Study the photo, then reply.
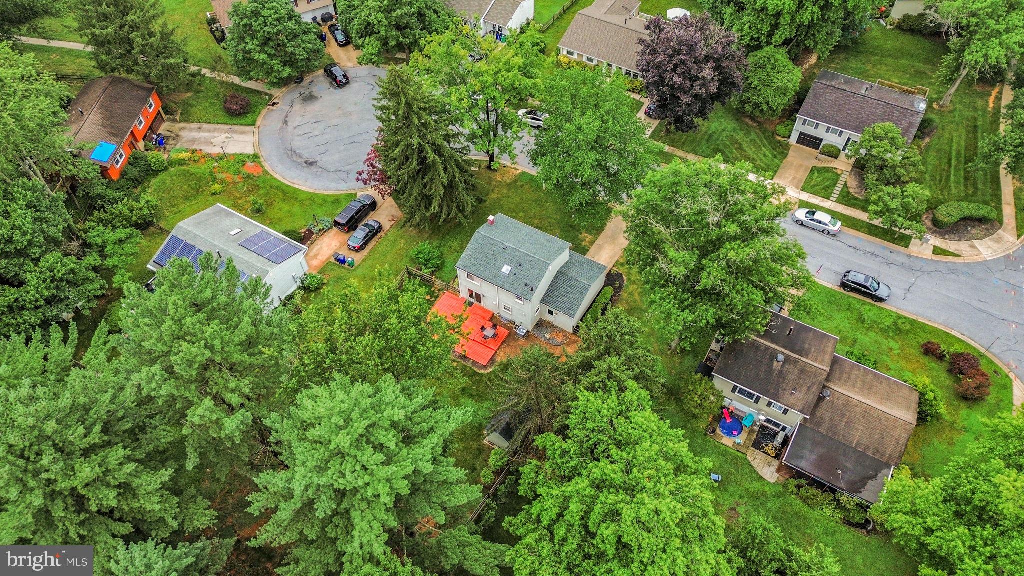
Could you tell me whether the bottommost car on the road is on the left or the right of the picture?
right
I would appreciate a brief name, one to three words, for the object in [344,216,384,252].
car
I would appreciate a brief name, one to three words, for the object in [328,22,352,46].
car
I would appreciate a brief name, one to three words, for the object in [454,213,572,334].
house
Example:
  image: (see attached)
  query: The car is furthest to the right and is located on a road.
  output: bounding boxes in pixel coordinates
[840,269,892,303]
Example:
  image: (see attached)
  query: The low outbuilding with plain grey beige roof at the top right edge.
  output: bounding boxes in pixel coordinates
[885,0,927,33]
